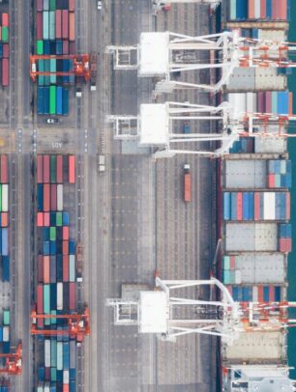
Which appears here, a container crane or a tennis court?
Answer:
container crane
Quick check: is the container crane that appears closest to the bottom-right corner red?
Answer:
No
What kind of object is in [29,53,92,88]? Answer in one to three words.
container crane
